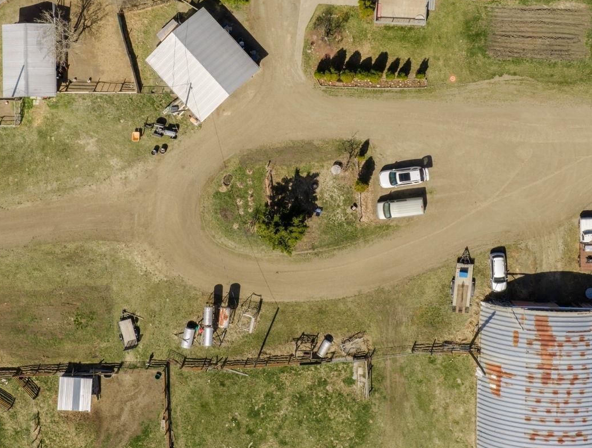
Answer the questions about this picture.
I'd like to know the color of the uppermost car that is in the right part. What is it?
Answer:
white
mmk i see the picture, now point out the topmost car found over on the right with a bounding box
[380,166,430,190]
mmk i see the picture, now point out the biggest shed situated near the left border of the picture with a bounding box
[2,23,61,97]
